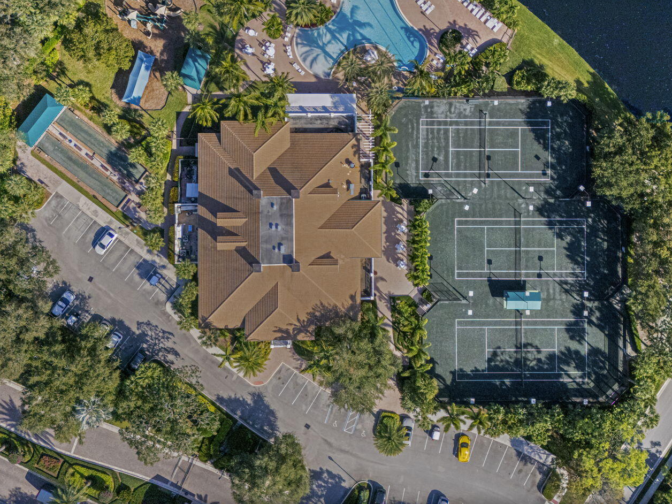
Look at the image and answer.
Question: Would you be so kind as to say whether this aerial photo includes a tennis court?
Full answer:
Yes, you can see a tennis court in this photo.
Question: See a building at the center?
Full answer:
Yes, I can see a building at the center.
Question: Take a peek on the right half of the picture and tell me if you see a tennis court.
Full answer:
Yes, a tennis court shows up on the right half of the picture.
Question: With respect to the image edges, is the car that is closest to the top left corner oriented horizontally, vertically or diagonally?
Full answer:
What the image shows is the car that is closest to the top left corner lying diagonally.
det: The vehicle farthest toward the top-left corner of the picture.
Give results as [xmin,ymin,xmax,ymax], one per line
[94,228,118,255]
